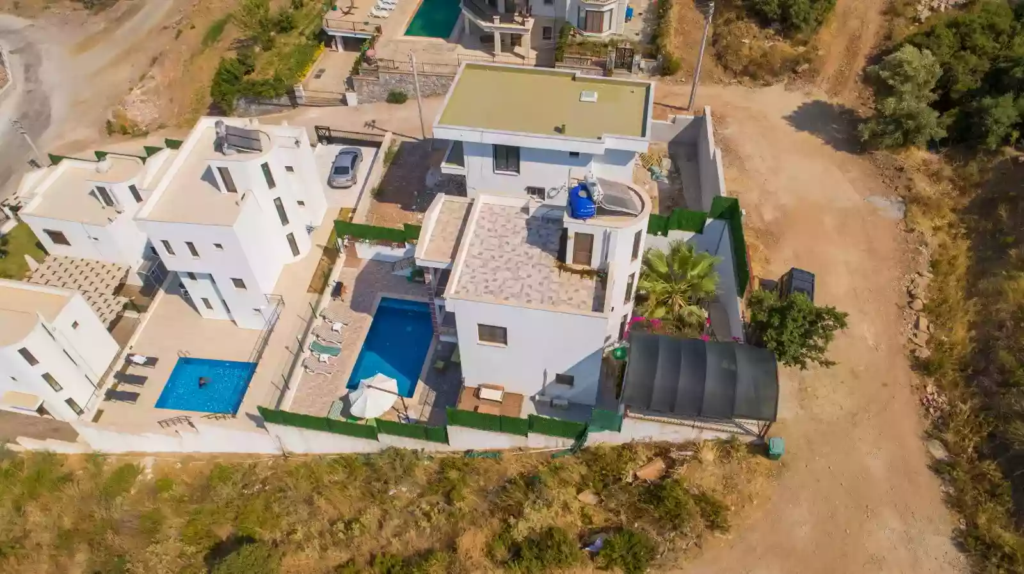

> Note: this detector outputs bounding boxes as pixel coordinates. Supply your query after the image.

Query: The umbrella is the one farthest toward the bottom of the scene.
[350,376,414,425]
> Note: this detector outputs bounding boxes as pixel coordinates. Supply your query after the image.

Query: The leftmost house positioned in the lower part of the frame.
[0,273,121,419]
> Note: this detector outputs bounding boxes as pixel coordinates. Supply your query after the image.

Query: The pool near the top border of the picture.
[409,0,472,40]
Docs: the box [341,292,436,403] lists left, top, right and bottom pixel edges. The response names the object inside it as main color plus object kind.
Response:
blue swimming pool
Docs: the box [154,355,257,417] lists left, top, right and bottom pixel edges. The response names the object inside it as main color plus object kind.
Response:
blue swimming pool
